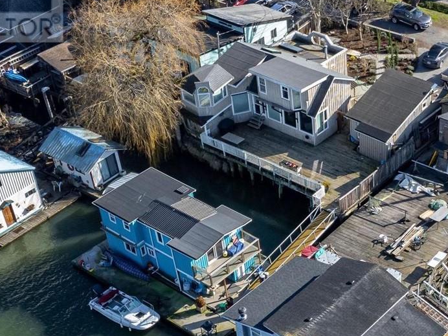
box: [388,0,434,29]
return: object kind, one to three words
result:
car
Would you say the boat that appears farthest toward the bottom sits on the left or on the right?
left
